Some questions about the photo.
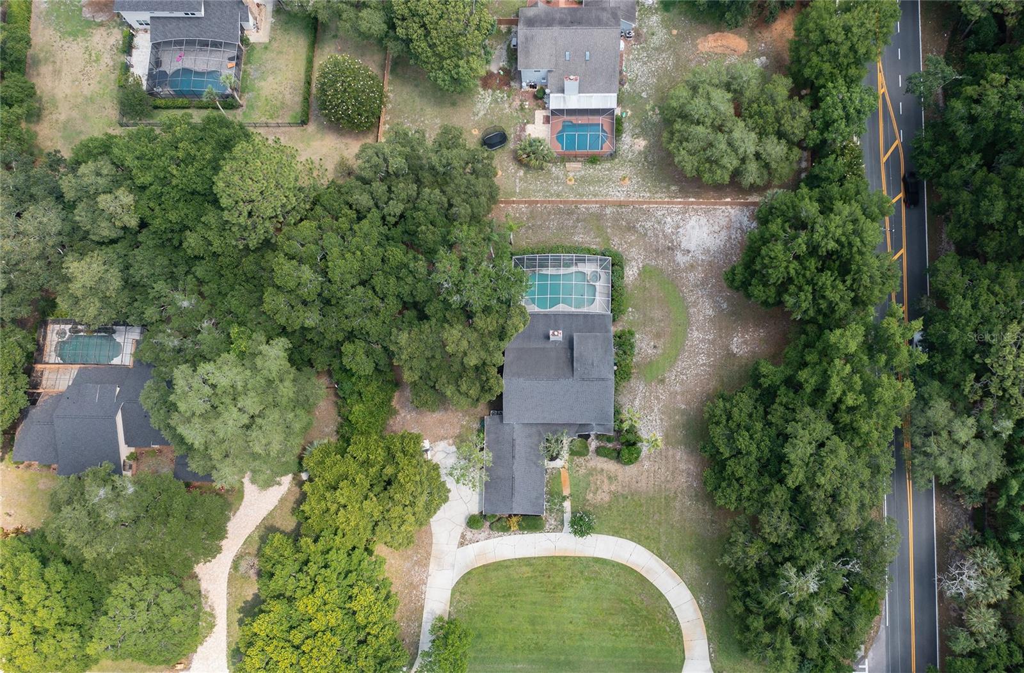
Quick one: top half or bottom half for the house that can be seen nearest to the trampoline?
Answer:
top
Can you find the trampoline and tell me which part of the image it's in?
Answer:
top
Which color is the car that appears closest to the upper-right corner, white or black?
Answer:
black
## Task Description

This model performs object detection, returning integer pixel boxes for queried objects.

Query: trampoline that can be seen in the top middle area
[482,127,506,148]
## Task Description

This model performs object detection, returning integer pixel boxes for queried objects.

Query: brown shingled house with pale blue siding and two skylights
[518,0,637,110]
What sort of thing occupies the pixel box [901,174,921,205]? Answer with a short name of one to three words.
car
